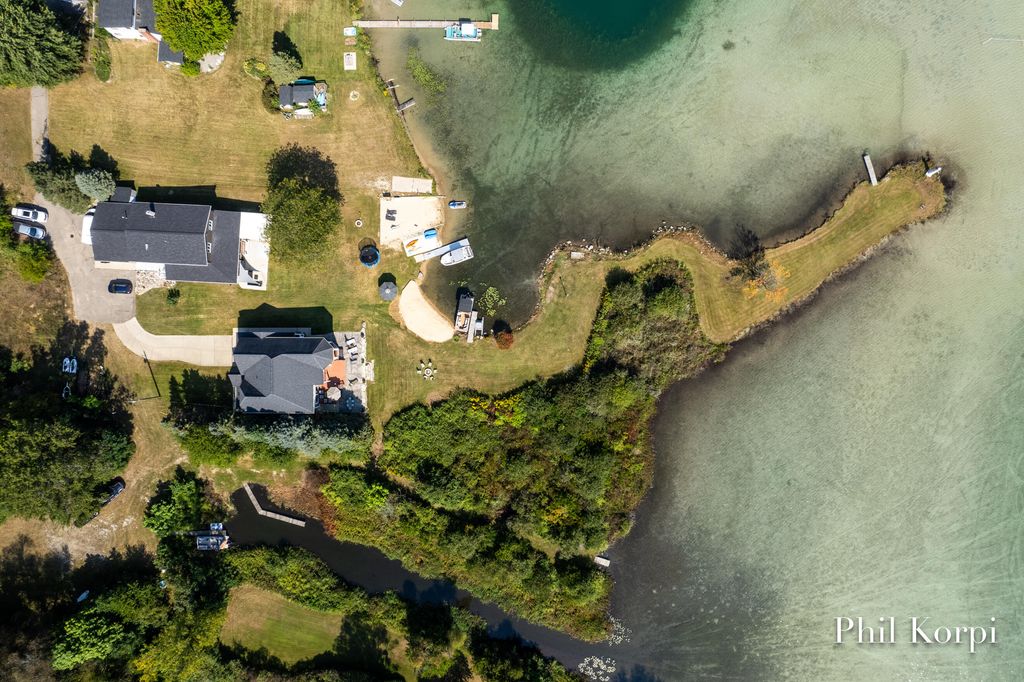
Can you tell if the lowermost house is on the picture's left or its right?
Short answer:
left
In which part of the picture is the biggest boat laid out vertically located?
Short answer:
center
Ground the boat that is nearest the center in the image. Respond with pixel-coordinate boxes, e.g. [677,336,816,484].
[454,294,475,336]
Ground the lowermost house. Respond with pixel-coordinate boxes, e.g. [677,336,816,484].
[228,328,341,414]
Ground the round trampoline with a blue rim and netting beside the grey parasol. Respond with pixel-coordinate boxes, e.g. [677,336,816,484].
[357,244,380,266]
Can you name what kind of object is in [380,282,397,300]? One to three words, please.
umbrella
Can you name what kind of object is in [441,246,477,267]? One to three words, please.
boat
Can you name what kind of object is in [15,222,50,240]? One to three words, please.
car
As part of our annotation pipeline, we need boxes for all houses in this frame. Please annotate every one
[91,187,244,283]
[228,328,341,414]
[97,0,188,66]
